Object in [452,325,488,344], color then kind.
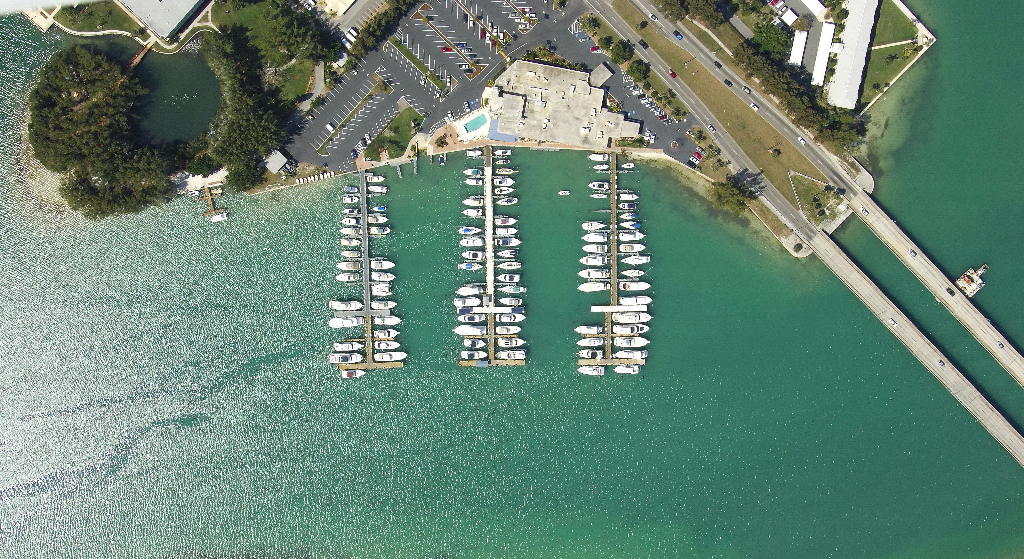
white boat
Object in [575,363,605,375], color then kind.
white boat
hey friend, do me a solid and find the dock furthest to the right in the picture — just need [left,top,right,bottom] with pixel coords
[578,151,647,366]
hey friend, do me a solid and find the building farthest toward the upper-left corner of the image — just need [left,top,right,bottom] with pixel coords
[122,0,204,39]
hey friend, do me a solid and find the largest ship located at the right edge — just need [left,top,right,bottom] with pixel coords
[955,268,984,296]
